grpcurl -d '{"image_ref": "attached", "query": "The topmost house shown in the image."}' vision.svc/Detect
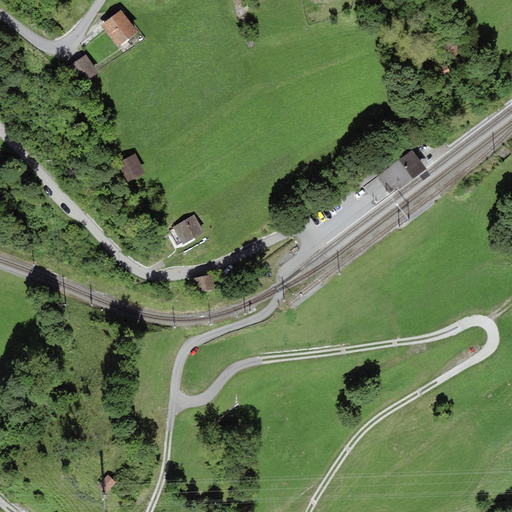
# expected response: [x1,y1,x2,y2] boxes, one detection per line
[102,10,138,47]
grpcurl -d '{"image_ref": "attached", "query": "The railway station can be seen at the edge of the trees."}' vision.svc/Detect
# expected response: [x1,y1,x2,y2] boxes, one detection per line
[303,99,512,272]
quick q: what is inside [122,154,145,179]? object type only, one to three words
barn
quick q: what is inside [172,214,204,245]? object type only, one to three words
house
